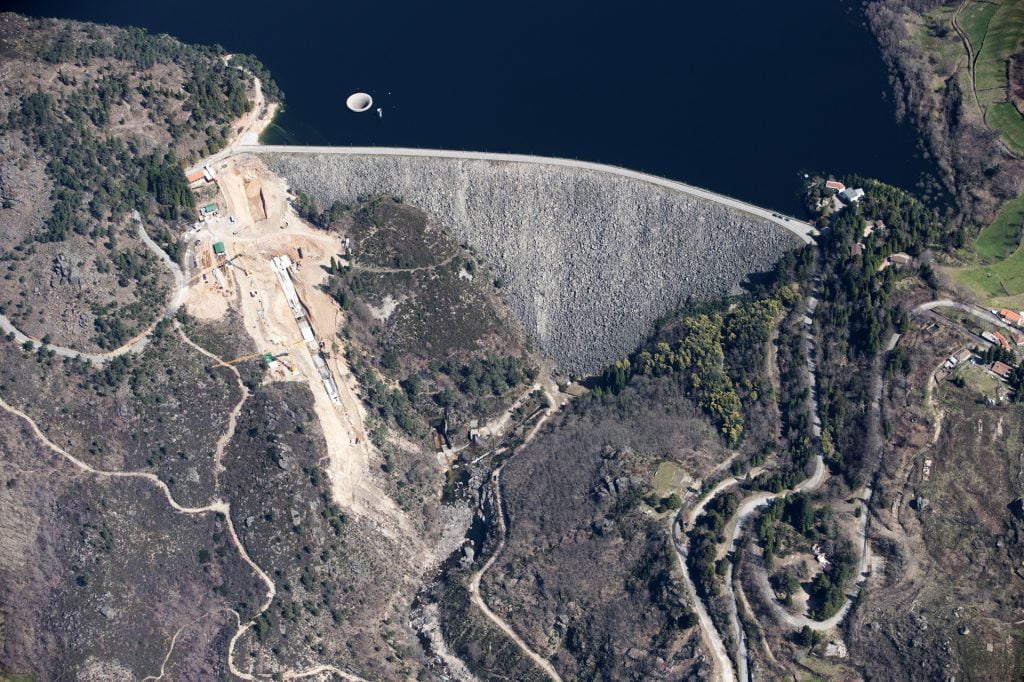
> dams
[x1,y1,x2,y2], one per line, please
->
[238,145,820,381]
